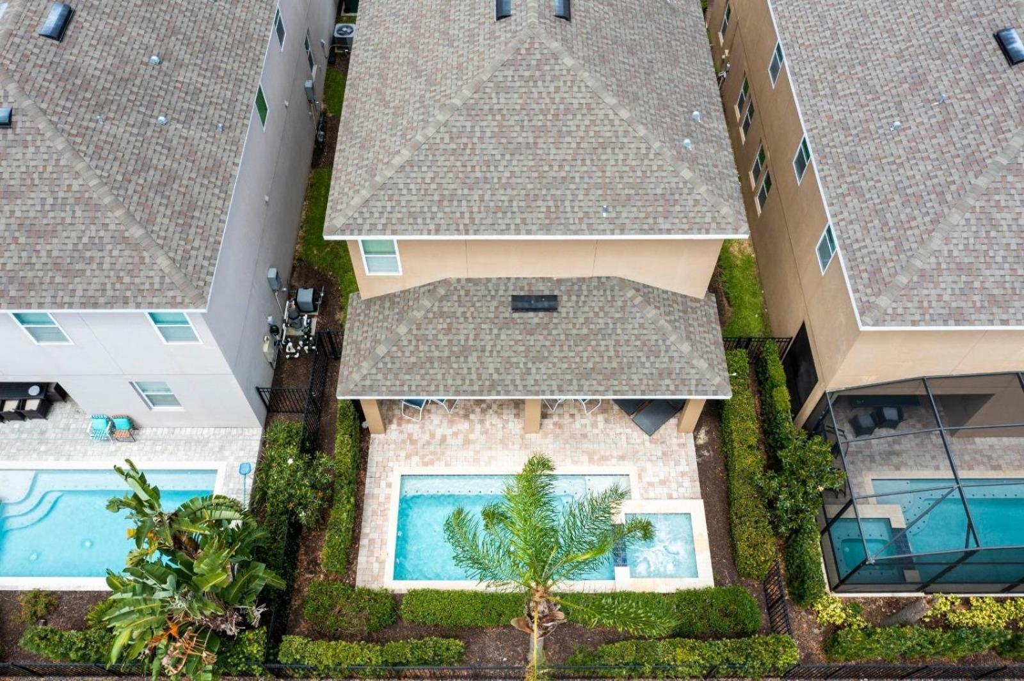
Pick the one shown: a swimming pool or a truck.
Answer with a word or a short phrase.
swimming pool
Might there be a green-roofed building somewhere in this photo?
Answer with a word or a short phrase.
No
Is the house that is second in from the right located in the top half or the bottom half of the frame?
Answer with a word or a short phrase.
top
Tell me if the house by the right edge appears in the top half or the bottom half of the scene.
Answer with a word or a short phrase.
top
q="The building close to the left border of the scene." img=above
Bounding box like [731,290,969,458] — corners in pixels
[0,0,340,427]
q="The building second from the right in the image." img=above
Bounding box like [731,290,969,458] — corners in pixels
[318,0,751,434]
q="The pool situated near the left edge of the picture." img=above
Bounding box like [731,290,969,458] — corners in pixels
[0,461,230,589]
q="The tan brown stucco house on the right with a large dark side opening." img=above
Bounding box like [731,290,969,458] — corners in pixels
[709,0,1024,433]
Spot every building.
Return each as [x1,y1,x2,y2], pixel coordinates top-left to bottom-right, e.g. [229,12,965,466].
[0,0,340,427]
[709,0,1024,433]
[318,0,751,434]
